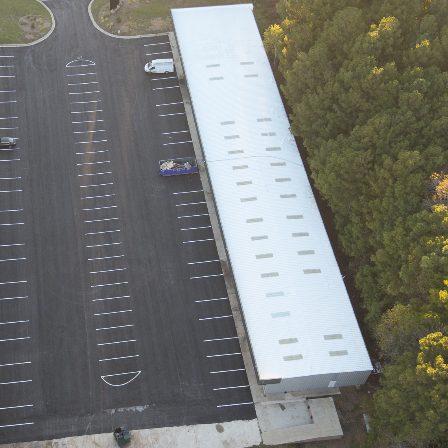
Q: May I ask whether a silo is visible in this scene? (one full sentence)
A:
No, the photo shows no silo.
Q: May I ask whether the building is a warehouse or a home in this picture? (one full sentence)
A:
The building appears to be a warehouse.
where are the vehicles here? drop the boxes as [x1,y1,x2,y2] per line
[144,59,174,76]
[0,137,16,147]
